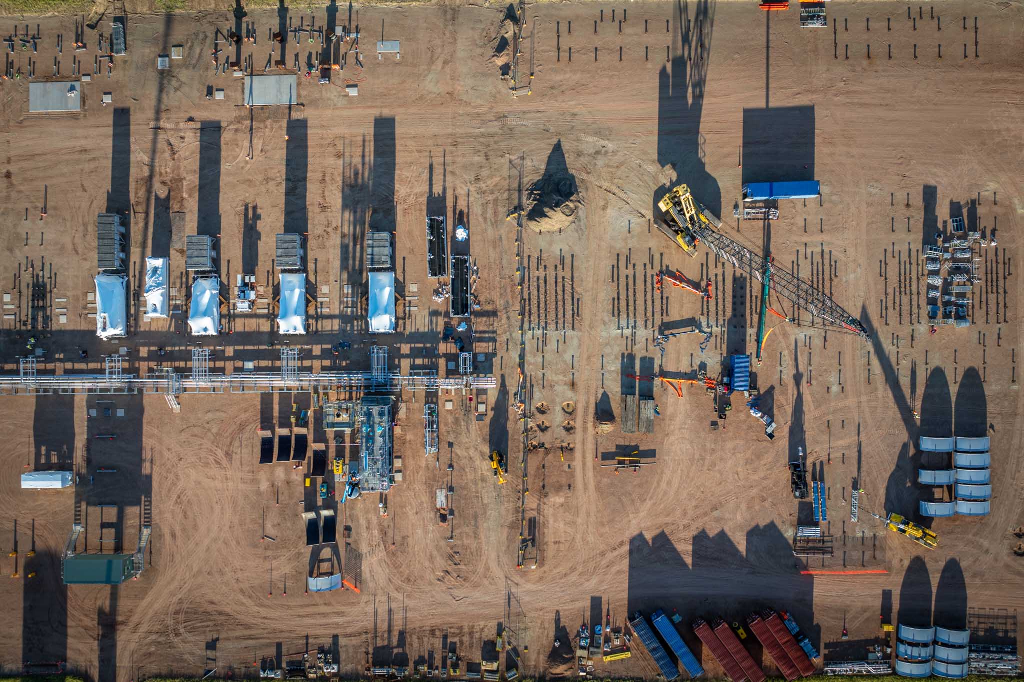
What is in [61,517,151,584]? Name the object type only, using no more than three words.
building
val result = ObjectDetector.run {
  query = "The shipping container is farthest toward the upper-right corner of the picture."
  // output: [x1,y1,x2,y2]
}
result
[742,182,823,208]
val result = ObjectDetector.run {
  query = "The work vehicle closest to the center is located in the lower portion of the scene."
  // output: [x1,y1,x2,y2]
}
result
[486,452,510,490]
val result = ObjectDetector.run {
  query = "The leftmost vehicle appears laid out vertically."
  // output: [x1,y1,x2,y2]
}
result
[234,273,254,315]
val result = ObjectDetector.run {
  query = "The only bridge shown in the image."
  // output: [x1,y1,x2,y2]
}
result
[146,362,183,416]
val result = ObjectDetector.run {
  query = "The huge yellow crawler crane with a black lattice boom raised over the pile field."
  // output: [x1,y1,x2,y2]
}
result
[655,176,874,342]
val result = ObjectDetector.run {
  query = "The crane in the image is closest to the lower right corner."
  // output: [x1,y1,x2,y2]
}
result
[873,509,951,555]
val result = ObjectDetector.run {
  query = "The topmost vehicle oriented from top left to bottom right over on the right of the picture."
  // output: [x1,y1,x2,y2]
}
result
[751,406,776,430]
